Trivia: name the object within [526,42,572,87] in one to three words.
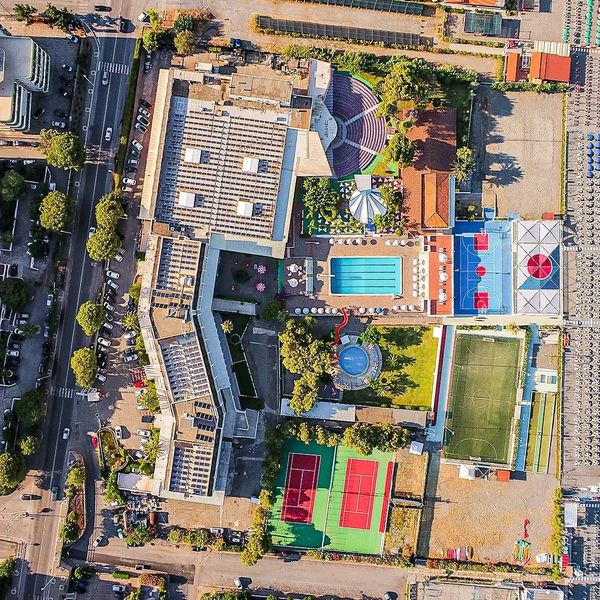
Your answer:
building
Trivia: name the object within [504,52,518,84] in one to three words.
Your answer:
building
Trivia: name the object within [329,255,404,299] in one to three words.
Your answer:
swimming pool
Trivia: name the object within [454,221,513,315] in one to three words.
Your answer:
basketball court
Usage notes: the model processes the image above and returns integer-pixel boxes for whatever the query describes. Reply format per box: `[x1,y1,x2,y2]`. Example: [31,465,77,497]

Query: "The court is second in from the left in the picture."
[324,446,398,557]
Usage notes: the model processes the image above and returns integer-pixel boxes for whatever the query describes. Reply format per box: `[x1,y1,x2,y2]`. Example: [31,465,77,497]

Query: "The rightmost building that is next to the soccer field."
[533,369,558,392]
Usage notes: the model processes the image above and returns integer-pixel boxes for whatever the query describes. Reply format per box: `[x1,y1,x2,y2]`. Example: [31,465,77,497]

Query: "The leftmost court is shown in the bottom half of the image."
[266,439,338,550]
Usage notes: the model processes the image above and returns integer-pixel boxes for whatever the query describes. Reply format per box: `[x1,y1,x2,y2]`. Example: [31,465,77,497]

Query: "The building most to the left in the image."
[0,35,53,133]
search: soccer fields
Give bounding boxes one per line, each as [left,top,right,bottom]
[444,335,523,466]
